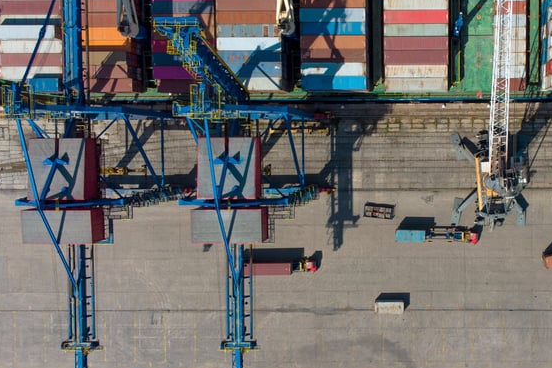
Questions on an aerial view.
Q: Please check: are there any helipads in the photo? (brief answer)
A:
No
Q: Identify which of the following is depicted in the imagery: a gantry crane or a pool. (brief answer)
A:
gantry crane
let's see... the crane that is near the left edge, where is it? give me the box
[2,0,197,368]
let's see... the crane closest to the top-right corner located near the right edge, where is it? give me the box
[450,0,532,226]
